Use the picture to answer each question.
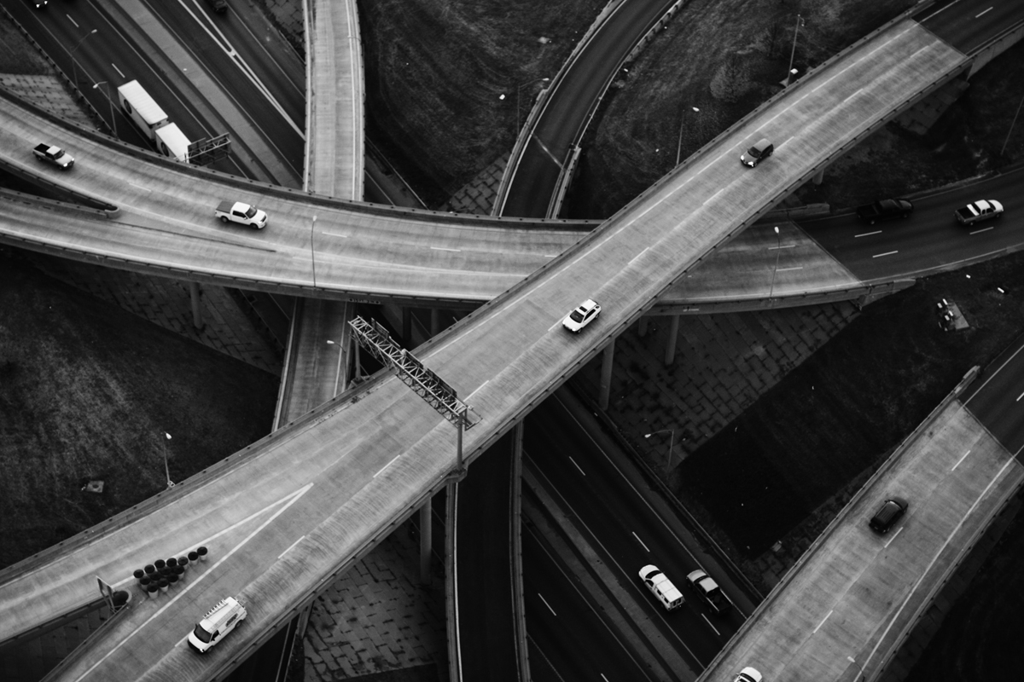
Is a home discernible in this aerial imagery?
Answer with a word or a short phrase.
No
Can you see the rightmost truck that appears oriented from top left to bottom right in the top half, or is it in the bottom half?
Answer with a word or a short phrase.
bottom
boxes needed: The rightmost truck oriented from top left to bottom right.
[687,570,732,617]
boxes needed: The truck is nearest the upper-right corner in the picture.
[954,201,1002,226]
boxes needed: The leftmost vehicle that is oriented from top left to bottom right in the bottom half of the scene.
[638,565,685,614]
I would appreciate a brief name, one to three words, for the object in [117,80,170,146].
trailer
